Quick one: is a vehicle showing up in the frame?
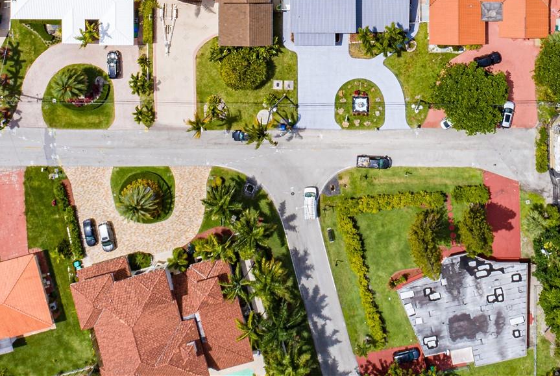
Yes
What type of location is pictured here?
residential area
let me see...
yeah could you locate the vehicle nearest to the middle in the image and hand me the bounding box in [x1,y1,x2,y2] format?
[303,183,318,221]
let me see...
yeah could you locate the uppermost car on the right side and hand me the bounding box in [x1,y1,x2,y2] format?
[472,51,501,67]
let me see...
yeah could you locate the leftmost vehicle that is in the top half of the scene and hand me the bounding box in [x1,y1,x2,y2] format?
[107,50,122,78]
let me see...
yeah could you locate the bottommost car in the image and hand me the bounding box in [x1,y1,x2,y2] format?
[391,346,420,363]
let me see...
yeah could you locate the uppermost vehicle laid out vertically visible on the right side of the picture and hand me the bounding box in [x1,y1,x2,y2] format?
[499,100,514,130]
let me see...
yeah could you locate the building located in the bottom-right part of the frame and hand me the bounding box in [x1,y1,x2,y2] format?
[397,248,532,367]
